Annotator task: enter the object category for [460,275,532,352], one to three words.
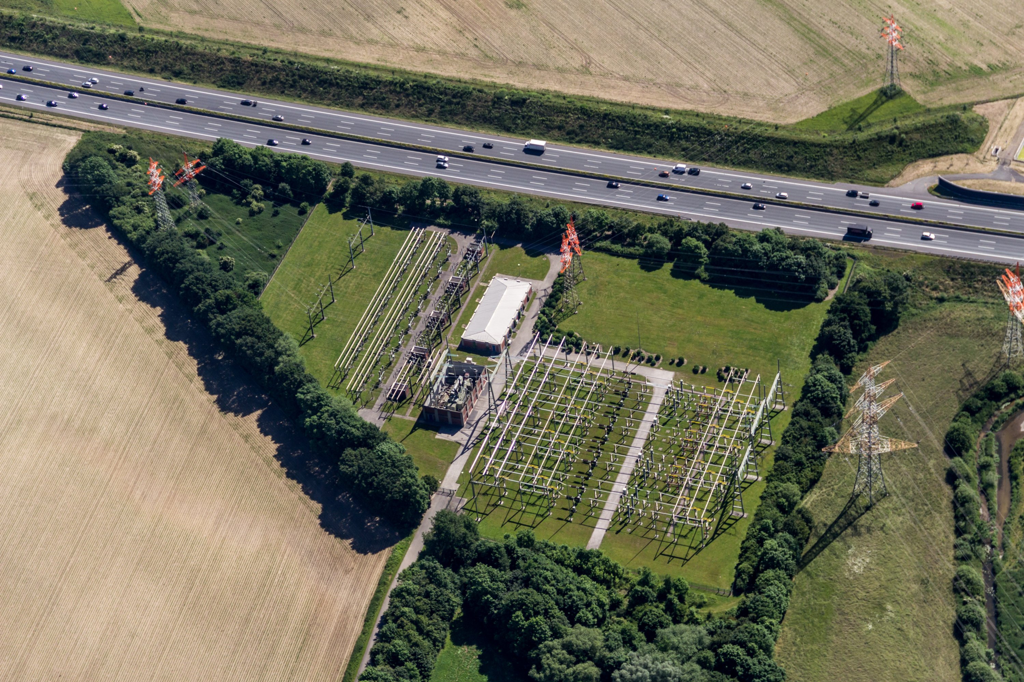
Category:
building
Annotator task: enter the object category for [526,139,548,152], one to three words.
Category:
vehicle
